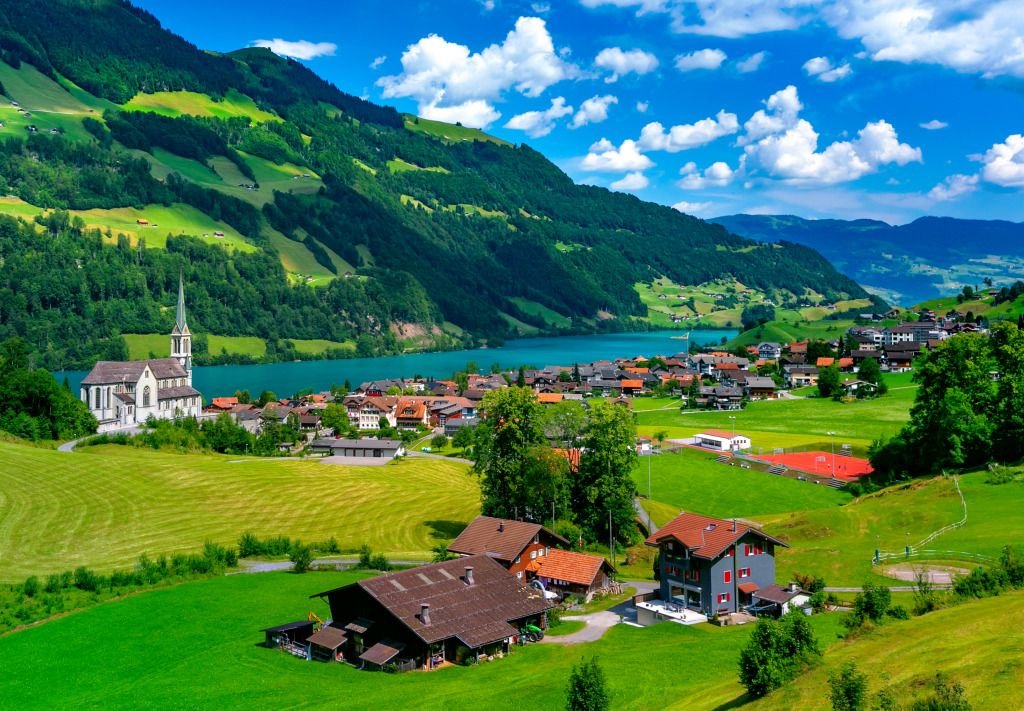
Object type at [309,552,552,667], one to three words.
barn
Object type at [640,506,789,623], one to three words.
house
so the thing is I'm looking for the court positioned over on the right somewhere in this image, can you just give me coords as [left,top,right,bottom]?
[752,449,871,481]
